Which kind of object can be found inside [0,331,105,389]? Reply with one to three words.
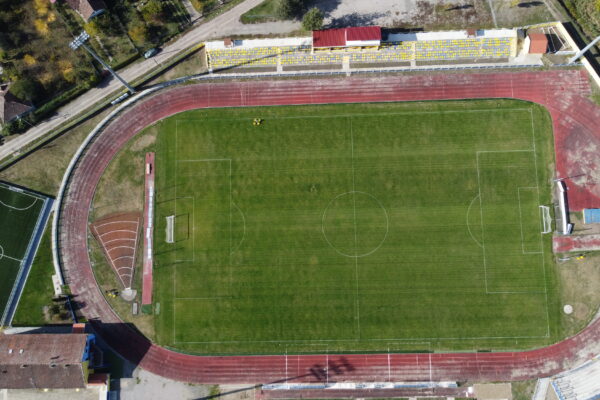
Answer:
building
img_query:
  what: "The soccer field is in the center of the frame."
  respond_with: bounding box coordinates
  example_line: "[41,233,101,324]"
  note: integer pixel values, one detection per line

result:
[156,103,561,355]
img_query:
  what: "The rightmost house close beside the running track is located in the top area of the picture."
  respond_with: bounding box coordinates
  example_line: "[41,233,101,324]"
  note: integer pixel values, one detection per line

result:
[524,34,547,57]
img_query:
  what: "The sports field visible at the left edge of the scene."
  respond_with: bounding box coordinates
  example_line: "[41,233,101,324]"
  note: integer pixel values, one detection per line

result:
[0,184,46,327]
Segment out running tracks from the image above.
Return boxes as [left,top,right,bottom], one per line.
[63,68,600,386]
